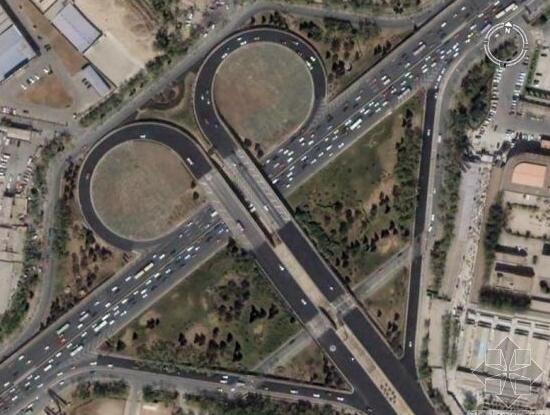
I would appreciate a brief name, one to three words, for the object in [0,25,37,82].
building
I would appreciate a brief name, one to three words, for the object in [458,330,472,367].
shed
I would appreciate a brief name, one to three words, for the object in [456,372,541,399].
shed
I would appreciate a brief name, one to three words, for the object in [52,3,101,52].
building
